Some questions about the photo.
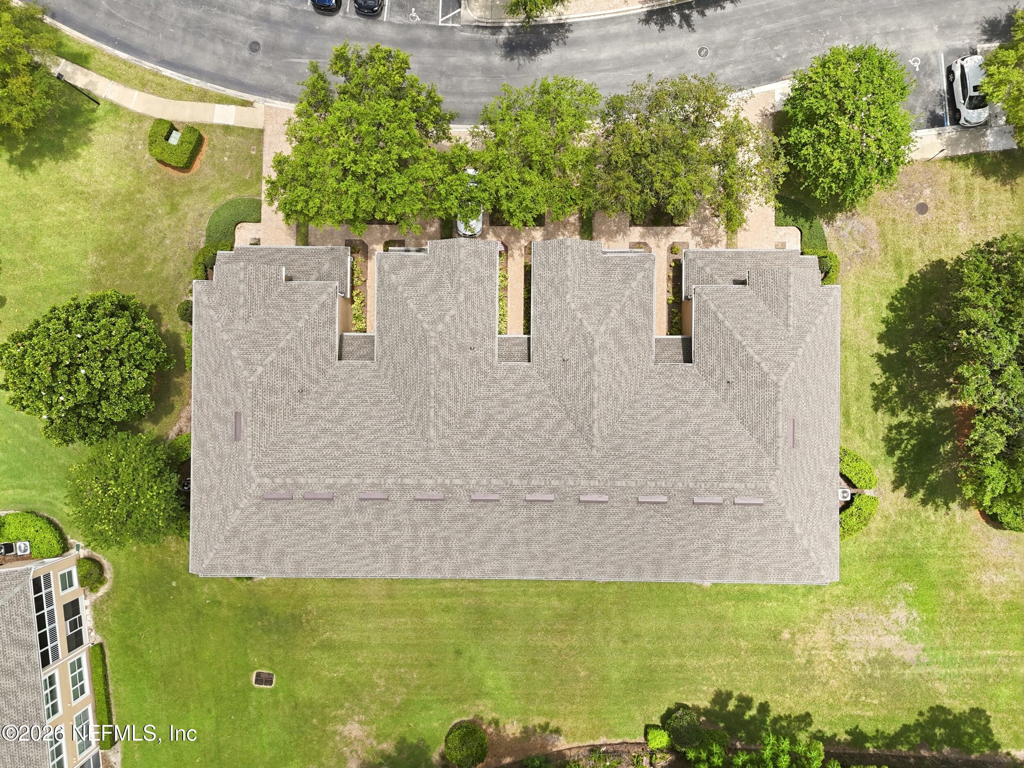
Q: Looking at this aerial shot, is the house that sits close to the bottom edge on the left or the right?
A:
left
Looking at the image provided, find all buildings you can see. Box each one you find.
[187,237,842,584]
[0,551,107,768]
